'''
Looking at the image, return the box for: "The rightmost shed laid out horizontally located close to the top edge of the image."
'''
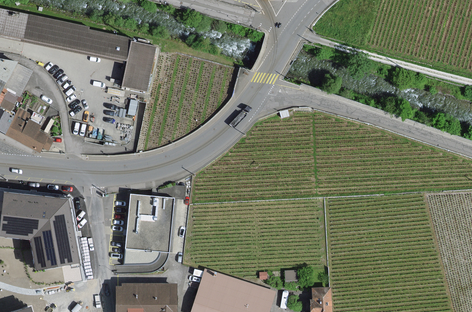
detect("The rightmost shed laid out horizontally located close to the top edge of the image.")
[23,14,130,60]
